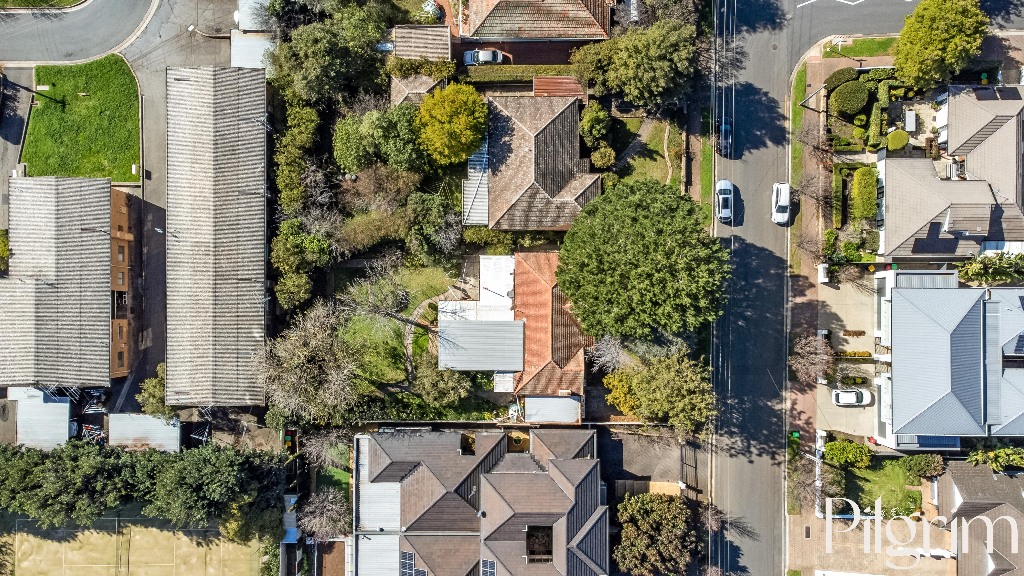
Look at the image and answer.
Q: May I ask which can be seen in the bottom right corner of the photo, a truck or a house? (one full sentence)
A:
Visible in the bottom right corner of the photo is a house.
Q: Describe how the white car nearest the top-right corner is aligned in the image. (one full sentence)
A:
The white car nearest the top-right corner is oriented vertically.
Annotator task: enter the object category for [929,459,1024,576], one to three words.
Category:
house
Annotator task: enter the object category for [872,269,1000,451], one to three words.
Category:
house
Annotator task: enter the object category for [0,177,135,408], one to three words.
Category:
building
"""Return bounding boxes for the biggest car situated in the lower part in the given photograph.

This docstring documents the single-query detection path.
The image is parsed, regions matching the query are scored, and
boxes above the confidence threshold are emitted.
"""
[830,388,870,407]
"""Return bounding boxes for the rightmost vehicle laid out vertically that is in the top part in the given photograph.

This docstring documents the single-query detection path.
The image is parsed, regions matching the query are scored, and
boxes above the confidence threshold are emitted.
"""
[769,182,790,225]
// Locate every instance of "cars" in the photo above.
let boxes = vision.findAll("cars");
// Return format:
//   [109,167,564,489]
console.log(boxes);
[715,117,735,159]
[830,388,870,407]
[463,48,503,66]
[714,180,734,224]
[769,182,790,225]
